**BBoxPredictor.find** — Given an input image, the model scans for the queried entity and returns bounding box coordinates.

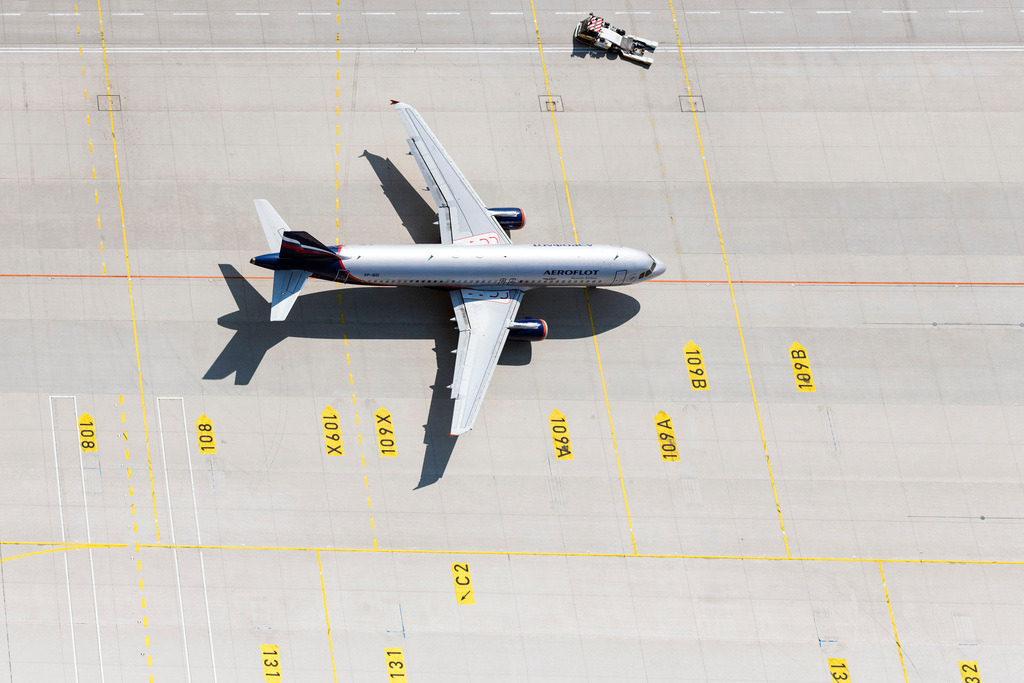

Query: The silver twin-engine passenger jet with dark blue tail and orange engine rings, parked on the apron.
[250,101,666,437]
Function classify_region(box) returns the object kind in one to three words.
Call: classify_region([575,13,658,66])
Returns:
work vehicle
